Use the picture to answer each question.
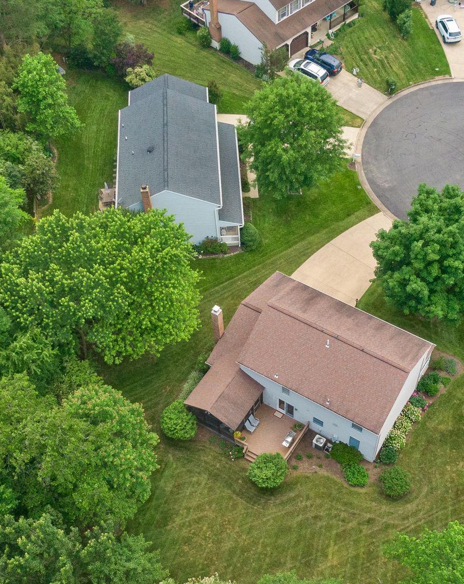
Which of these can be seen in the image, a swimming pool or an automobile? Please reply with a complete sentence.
Visible in the photo is an automobile.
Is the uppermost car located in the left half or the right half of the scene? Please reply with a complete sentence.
It is on the right.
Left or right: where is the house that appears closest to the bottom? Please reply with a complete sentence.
You can find the house that appears closest to the bottom on the right side of the picture.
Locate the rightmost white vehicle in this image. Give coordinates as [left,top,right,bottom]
[436,15,462,43]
